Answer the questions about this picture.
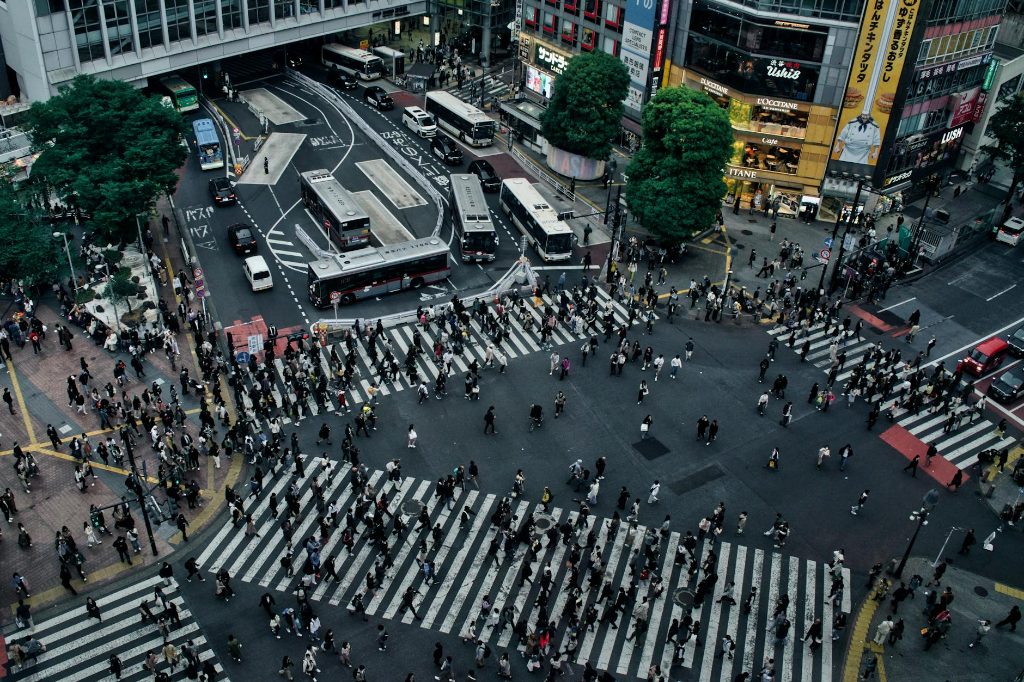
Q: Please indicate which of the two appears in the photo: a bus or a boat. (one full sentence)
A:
There is a bus in the scene.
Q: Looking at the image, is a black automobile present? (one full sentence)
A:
Yes, the photo shows a black automobile.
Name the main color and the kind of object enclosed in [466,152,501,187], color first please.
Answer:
black car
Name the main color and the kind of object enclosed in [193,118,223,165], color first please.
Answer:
blue bus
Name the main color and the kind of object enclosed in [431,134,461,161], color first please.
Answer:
black car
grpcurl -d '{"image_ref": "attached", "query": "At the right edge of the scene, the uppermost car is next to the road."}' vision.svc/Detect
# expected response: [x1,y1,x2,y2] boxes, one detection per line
[997,212,1024,244]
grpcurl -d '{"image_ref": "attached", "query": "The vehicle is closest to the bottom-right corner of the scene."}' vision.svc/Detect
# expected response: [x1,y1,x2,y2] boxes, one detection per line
[990,357,1024,401]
